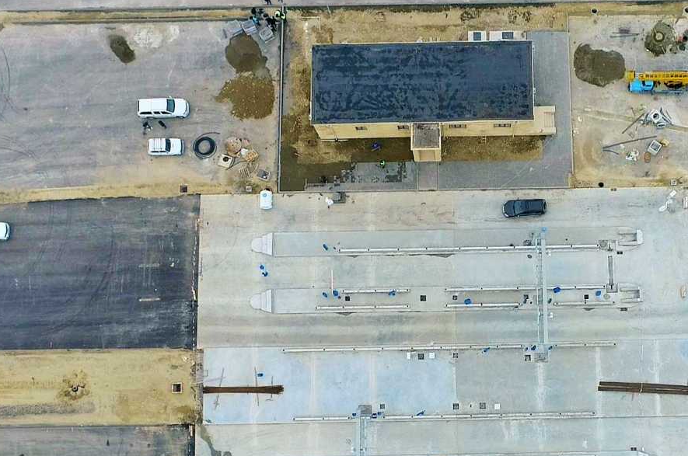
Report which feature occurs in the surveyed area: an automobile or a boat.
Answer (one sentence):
The one in the frame is an automobile.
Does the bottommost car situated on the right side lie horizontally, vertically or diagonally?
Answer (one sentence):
What the image shows is the bottommost car situated on the right side lying horizontally.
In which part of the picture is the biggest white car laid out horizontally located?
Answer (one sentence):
The biggest white car laid out horizontally is in the top left part of the image.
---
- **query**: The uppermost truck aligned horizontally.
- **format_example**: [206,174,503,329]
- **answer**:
[625,69,688,99]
